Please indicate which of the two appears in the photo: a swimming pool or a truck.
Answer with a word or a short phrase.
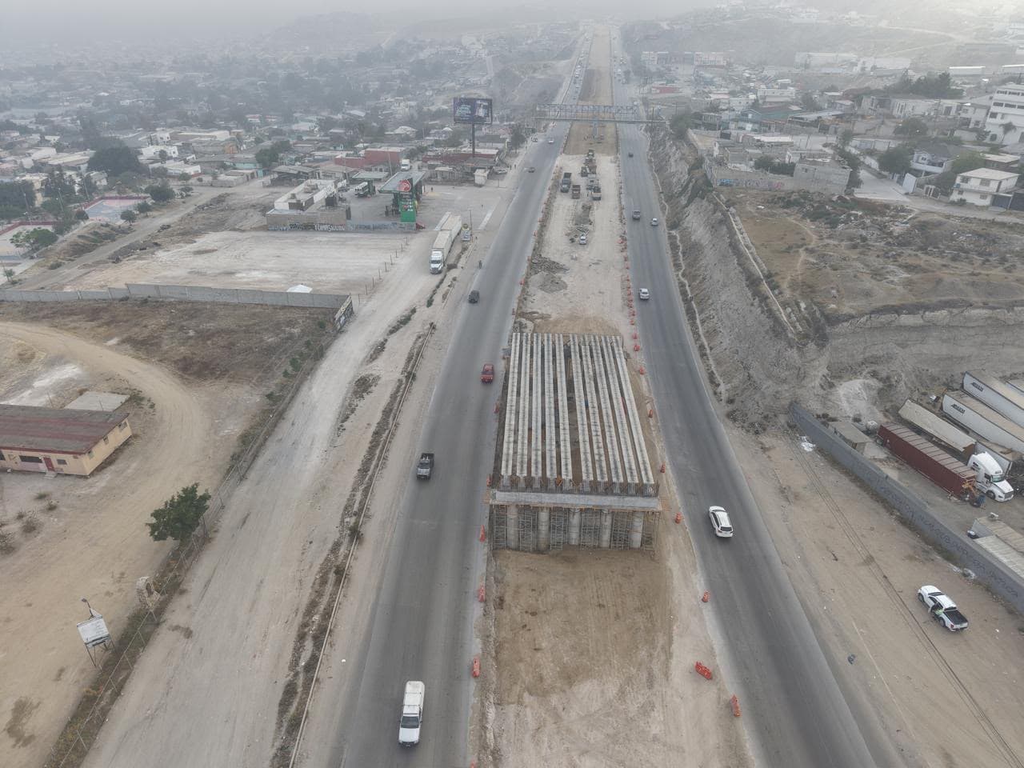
truck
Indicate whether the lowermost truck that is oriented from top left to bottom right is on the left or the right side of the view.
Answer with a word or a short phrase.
right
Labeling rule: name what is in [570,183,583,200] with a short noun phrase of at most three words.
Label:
vehicle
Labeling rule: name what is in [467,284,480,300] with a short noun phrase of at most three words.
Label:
vehicle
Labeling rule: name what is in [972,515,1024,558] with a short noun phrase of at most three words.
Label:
shed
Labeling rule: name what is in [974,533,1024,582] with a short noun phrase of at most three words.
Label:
shed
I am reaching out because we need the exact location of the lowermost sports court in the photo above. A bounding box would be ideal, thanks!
[0,218,62,264]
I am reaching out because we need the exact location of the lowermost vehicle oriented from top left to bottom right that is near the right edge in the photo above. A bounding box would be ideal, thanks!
[918,587,978,636]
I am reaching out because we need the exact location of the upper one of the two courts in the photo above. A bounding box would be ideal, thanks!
[82,194,150,222]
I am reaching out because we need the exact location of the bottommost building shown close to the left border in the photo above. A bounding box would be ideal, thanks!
[0,404,133,481]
